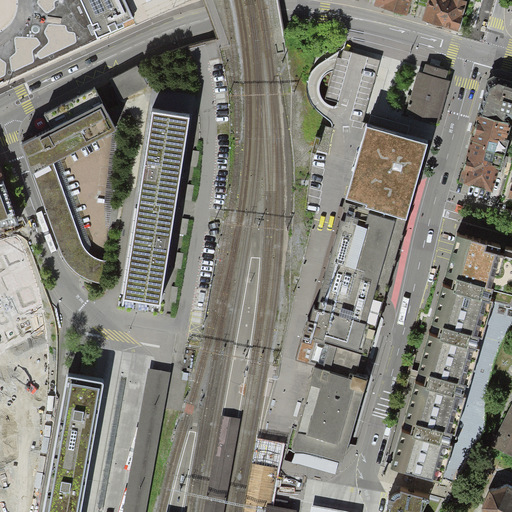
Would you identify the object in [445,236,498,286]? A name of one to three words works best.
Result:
building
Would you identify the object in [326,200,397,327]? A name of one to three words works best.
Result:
building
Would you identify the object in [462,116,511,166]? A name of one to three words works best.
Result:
house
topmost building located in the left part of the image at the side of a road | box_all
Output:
[78,0,134,40]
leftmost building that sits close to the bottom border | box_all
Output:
[43,376,106,512]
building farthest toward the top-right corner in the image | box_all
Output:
[421,0,466,33]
